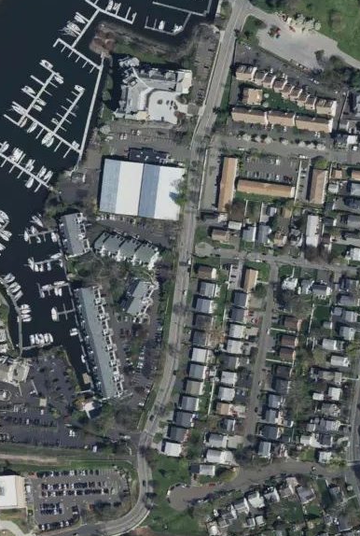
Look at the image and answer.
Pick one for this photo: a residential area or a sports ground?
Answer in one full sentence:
The picture captures a residential area.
